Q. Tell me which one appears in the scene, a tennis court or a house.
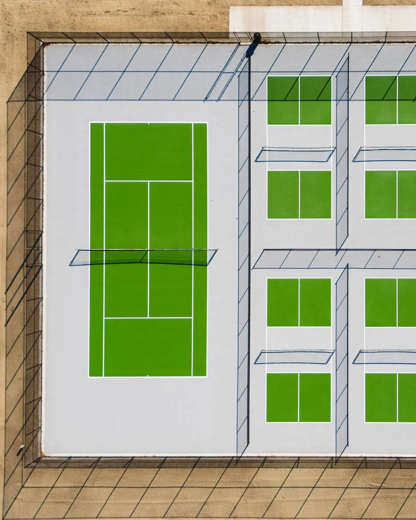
tennis court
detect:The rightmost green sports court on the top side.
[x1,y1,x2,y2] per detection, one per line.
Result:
[365,75,416,218]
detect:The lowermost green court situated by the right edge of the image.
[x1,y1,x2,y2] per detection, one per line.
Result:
[365,278,416,423]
